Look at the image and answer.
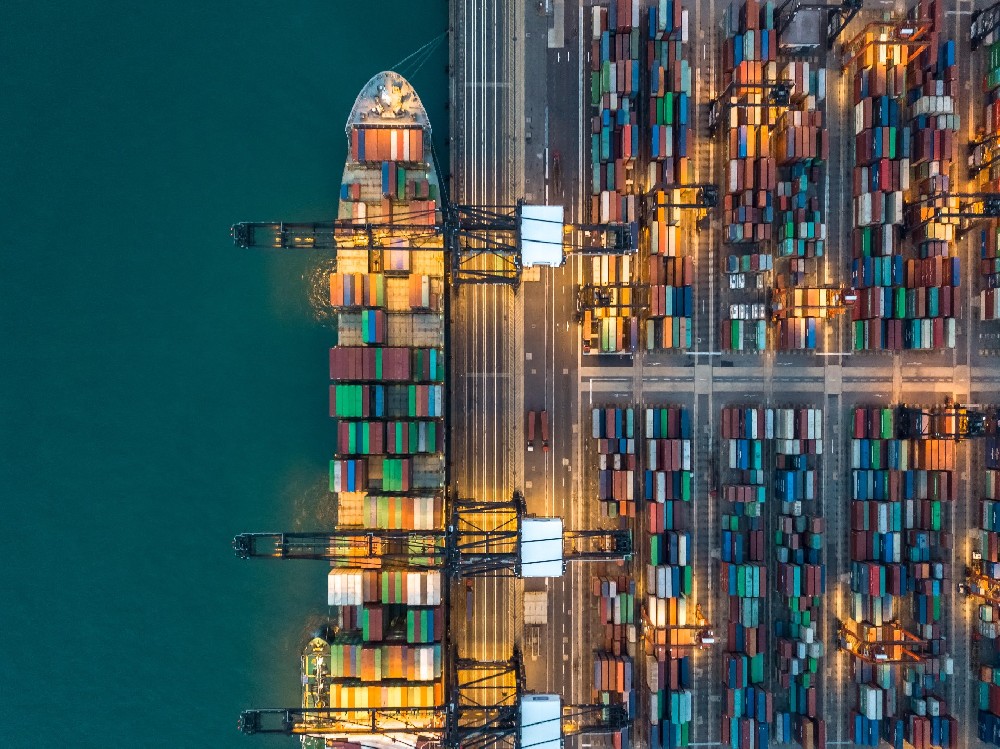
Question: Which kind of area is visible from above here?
port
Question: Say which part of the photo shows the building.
top right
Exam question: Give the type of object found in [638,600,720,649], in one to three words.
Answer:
crane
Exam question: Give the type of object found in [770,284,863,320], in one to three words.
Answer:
crane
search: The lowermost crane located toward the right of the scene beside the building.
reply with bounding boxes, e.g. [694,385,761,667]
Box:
[710,81,801,136]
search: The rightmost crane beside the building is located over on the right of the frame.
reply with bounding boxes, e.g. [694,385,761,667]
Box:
[841,18,936,74]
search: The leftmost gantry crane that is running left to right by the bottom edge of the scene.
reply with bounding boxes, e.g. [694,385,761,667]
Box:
[229,629,641,749]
